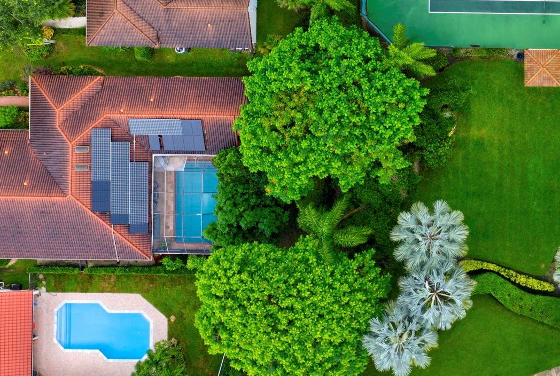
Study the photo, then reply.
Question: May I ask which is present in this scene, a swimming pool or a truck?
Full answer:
The one in the frame is a swimming pool.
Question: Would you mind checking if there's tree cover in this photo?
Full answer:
Yes, tree cover can be seen from above here.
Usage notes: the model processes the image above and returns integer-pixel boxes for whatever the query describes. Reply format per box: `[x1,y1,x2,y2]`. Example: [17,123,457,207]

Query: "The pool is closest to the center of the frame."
[171,158,227,247]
